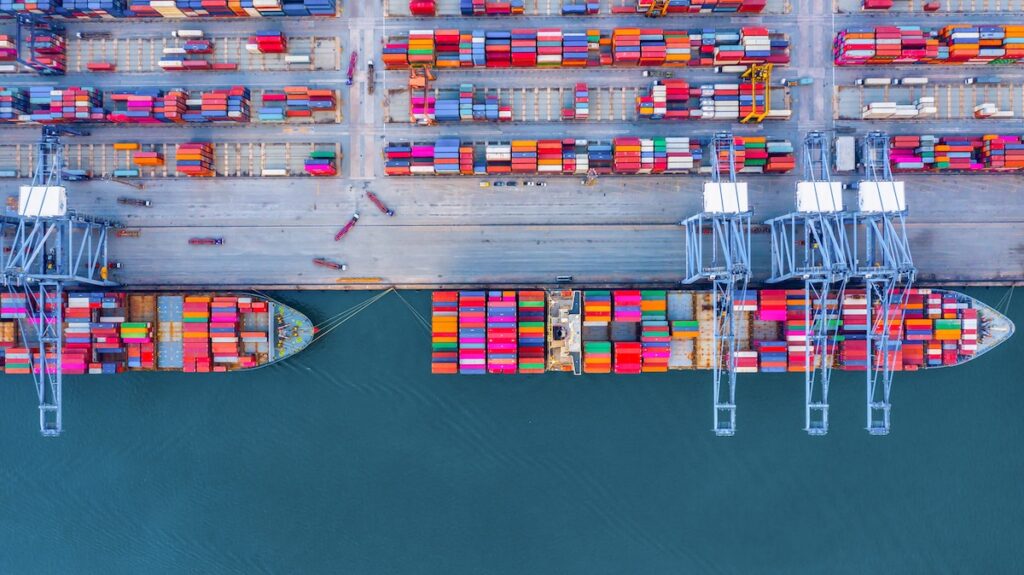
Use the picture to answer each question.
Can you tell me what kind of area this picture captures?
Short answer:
port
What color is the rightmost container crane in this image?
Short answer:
blue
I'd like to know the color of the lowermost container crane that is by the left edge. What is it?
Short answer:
blue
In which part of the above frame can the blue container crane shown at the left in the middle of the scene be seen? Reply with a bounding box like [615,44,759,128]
[0,134,125,436]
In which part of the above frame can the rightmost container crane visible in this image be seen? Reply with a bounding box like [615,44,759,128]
[814,134,923,436]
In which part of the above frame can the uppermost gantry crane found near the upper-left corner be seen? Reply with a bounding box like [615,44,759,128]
[17,13,64,74]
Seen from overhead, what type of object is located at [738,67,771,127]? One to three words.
container crane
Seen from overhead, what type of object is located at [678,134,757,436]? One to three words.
container crane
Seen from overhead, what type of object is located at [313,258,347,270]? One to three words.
vehicle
